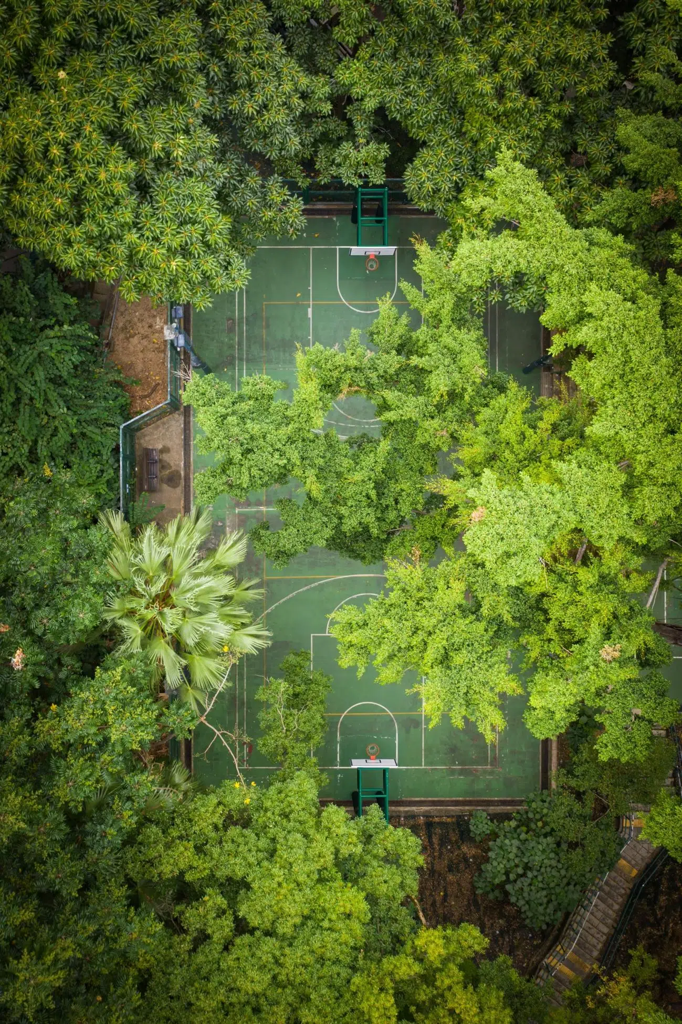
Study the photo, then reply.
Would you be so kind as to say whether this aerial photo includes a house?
No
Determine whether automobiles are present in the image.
No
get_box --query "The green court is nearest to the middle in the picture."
[192,216,542,800]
